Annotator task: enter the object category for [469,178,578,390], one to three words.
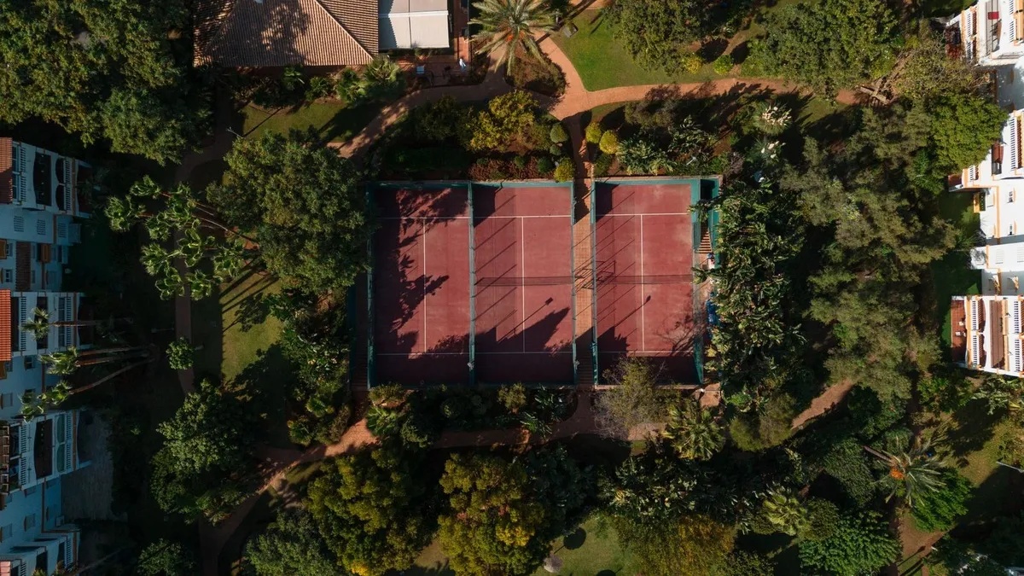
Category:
sports court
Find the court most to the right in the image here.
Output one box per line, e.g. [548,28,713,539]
[593,178,704,390]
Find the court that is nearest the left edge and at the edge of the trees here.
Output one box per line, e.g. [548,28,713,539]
[364,178,471,390]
